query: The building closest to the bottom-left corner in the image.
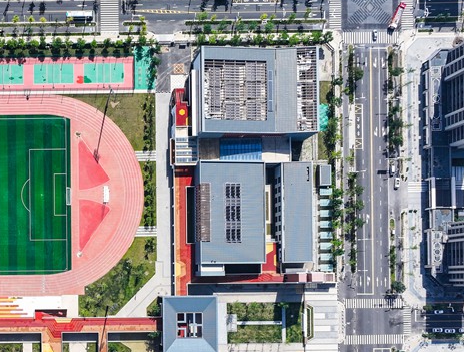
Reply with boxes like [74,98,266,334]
[163,296,218,352]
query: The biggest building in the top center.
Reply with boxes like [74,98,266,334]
[185,47,318,142]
